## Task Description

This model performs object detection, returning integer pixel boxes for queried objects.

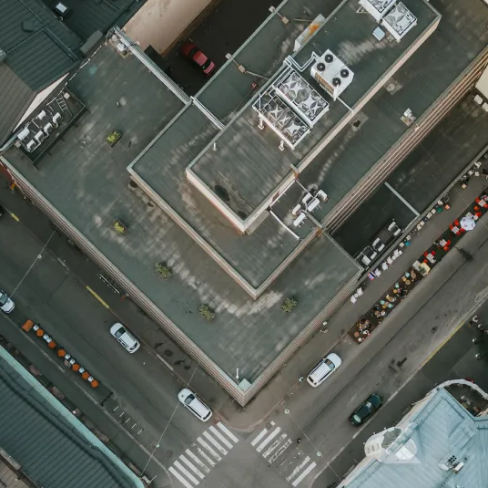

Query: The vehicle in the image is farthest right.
[345,389,386,430]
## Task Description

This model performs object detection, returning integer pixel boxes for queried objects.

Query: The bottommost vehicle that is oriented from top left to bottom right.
[174,385,216,425]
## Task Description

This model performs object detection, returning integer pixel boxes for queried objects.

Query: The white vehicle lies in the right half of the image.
[302,349,345,391]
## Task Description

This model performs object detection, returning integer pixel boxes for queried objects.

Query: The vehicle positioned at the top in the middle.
[175,40,219,80]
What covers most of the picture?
buildings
